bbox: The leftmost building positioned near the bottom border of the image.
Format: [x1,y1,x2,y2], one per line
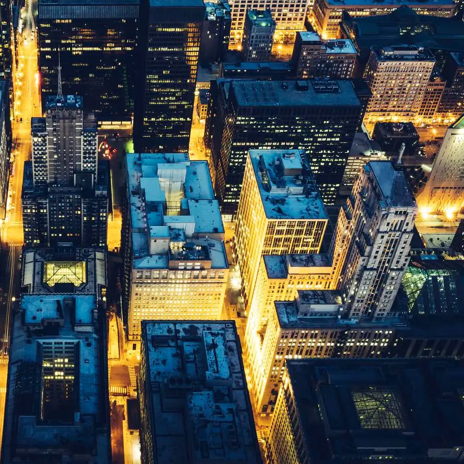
[1,294,114,464]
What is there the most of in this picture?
buildings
